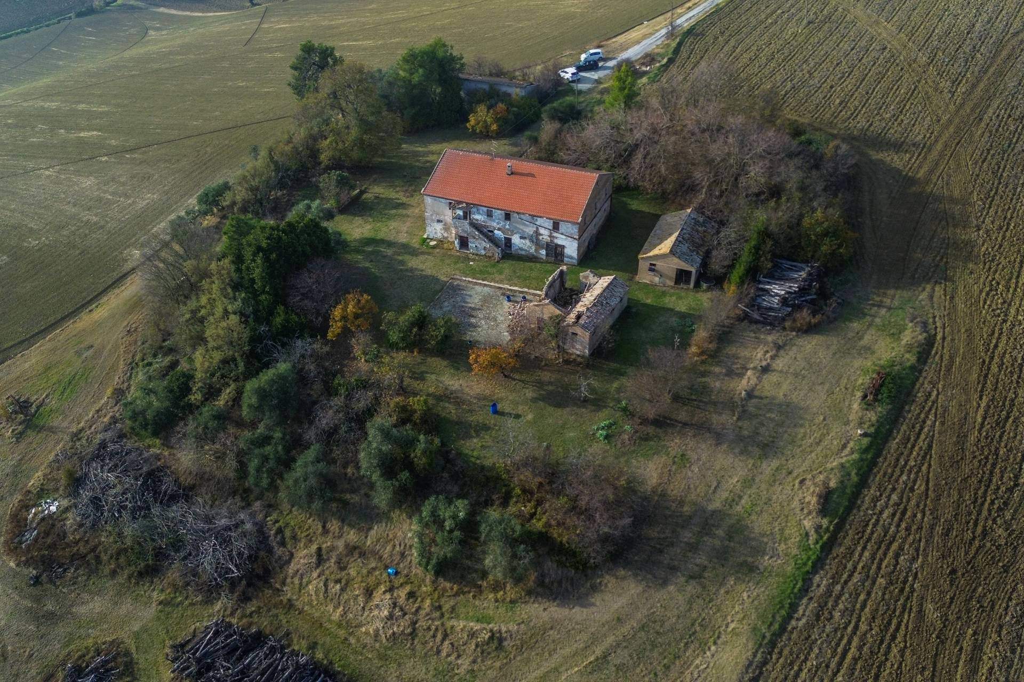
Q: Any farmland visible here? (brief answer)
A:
Yes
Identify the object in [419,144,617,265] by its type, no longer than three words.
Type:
house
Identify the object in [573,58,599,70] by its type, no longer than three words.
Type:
vehicle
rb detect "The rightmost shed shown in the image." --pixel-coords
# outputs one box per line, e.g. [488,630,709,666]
[636,206,713,291]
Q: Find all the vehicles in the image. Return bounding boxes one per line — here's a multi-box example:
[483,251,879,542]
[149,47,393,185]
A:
[558,69,582,81]
[581,48,605,59]
[573,58,599,70]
